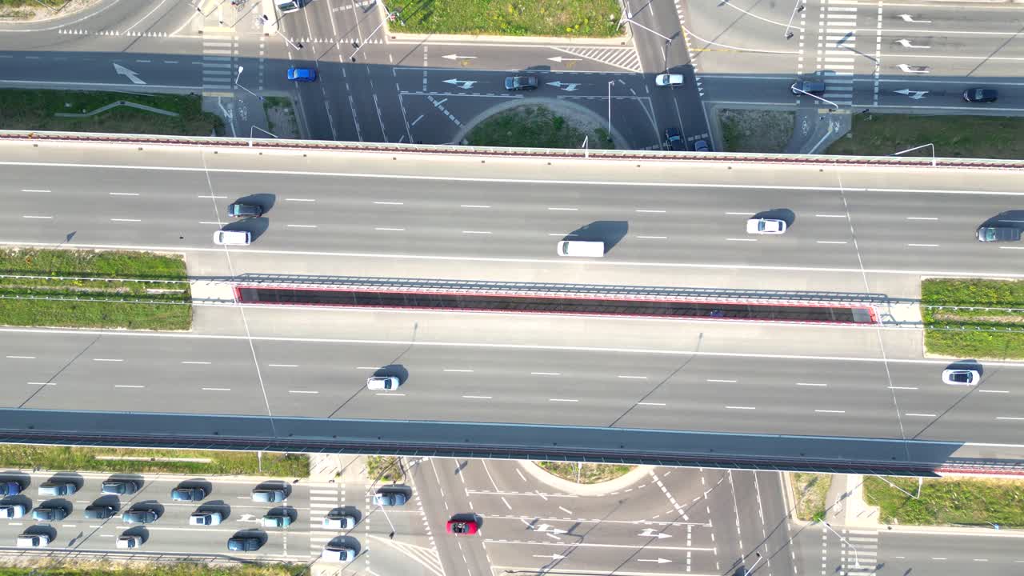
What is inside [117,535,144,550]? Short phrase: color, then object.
white car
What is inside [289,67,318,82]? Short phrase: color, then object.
blue car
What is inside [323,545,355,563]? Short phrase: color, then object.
white car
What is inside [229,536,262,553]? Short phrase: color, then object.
blue car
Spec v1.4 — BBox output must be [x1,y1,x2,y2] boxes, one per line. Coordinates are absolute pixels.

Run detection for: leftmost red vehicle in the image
[447,519,477,536]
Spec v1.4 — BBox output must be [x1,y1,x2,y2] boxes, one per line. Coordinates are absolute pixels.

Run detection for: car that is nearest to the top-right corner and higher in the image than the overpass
[961,87,998,103]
